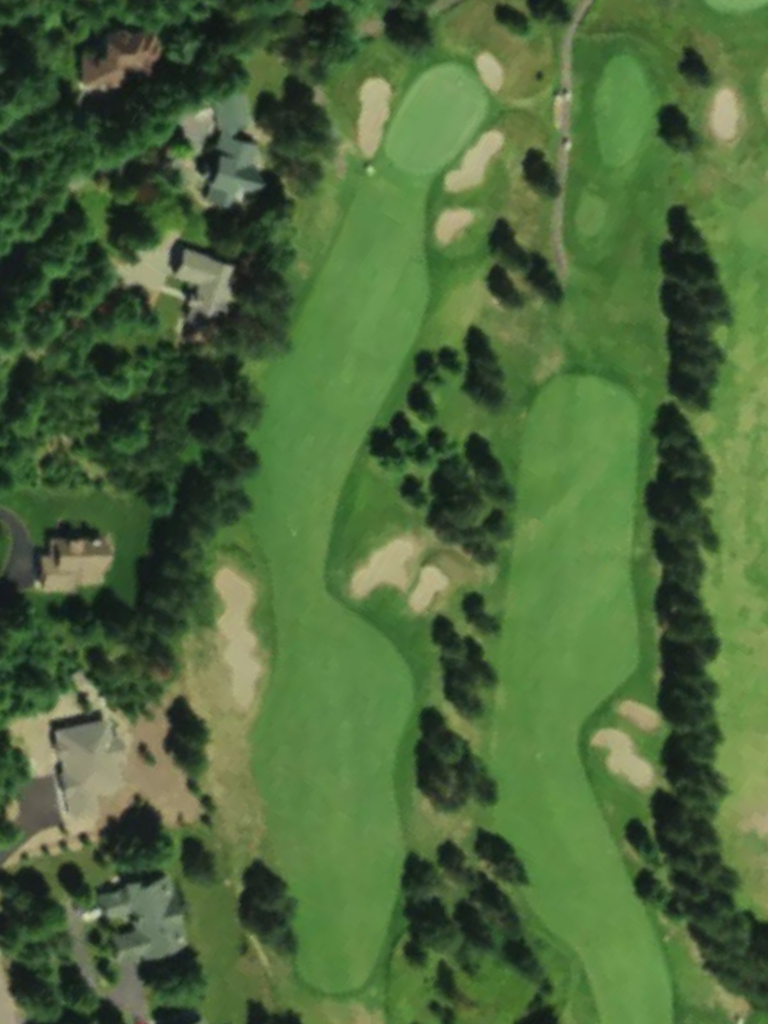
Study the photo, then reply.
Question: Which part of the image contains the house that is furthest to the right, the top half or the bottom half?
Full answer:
The house that is furthest to the right is in the top half of the image.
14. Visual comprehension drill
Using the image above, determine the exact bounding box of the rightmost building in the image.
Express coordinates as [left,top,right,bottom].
[205,93,268,206]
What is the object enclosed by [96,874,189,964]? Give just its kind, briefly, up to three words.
house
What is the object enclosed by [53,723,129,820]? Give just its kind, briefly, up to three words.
house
